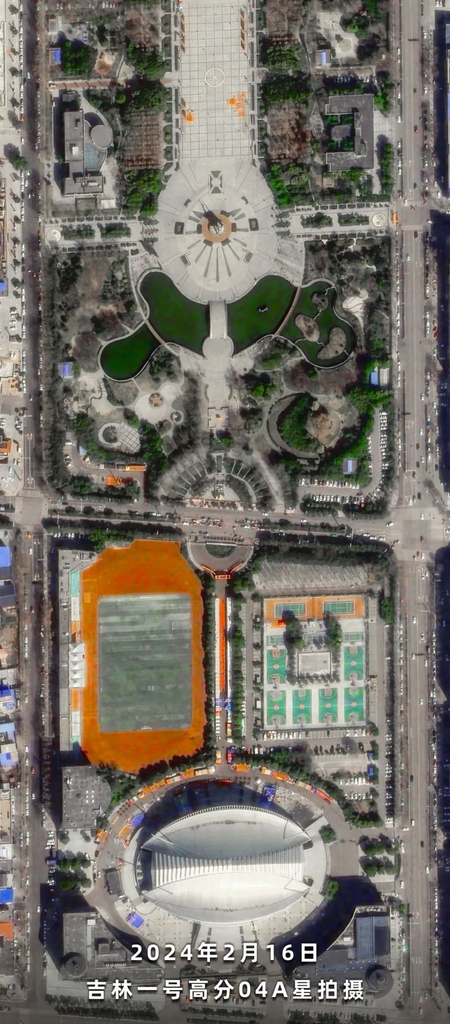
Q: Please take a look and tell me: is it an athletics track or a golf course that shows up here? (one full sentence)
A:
Looking from above, you can make out an athletics track.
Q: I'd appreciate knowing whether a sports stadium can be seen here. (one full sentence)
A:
Yes, the photo shows a sports stadium.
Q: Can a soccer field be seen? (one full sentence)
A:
Yes, there's a soccer field here.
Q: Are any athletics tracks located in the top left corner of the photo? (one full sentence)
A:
No, the scene shows no athletics track in the top left corner of the photo.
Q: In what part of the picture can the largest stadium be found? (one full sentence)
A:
Look in the bottom portion of the view to spot the largest stadium.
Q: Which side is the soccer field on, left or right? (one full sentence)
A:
You can find the soccer field on the left side of the picture.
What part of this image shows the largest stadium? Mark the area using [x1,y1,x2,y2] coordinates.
[133,804,313,929]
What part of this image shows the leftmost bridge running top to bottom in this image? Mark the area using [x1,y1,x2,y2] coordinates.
[209,300,227,338]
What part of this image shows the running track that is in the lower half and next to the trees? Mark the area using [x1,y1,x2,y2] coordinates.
[81,540,207,773]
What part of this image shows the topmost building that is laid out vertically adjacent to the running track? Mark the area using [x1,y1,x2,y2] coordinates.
[58,550,96,751]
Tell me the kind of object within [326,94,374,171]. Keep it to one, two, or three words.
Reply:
building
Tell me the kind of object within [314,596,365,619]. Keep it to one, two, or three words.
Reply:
tennis court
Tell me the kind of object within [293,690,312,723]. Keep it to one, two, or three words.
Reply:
basketball court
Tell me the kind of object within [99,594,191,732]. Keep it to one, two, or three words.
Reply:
soccer field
